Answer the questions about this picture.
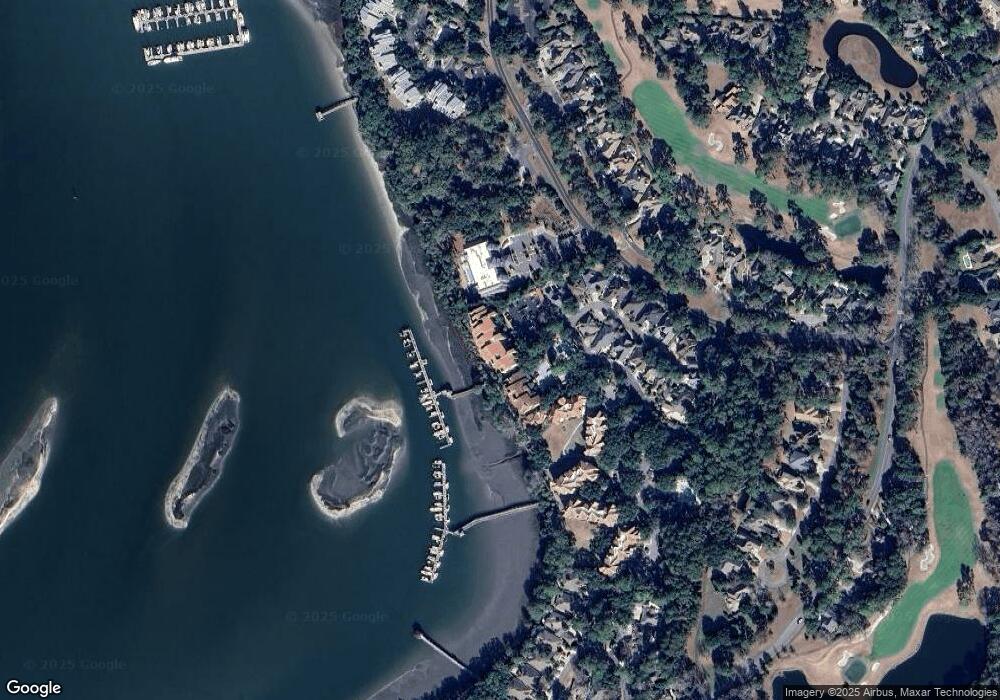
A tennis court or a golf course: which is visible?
golf course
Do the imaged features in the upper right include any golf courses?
Yes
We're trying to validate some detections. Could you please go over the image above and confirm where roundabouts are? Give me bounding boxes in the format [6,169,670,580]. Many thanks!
[760,558,788,590]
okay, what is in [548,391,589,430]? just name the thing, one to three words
house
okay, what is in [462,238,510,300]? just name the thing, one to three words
building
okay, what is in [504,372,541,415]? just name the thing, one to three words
building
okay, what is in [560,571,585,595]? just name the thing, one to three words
house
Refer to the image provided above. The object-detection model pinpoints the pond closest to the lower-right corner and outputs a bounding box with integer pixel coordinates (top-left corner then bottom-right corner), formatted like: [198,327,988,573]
[866,614,992,700]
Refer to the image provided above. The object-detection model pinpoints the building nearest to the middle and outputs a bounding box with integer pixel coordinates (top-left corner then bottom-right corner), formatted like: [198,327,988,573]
[468,303,520,372]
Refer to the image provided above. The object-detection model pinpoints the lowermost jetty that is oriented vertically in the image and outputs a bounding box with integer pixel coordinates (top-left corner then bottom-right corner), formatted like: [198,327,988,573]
[422,463,450,581]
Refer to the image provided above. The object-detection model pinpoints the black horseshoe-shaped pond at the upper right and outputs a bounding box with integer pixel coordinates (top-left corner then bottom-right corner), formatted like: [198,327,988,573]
[823,21,917,88]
